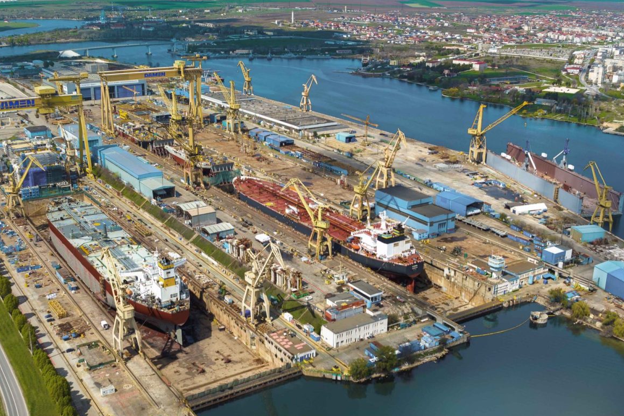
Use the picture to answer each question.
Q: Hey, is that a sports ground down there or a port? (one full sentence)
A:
The area seen from above is a port.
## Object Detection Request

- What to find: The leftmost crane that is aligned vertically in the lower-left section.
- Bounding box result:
[96,247,150,361]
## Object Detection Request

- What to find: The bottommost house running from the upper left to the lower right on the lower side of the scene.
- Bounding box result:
[258,319,317,363]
